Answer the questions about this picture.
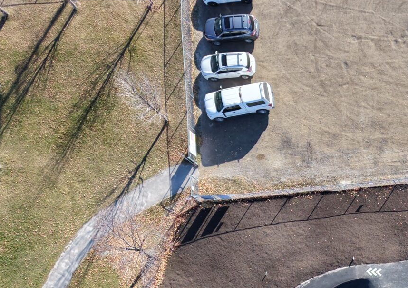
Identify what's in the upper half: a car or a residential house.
car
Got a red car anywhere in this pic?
No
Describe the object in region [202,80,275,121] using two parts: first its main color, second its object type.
white truck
